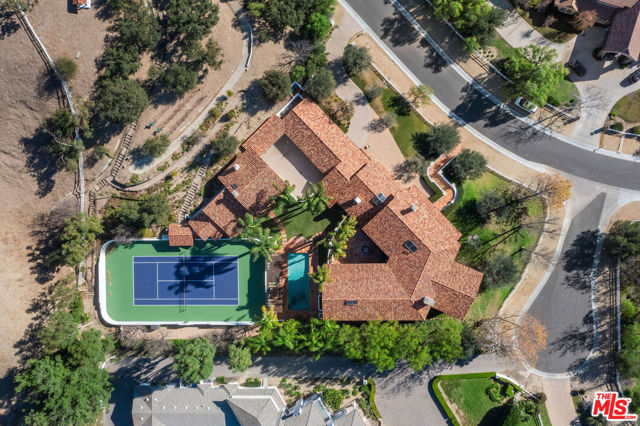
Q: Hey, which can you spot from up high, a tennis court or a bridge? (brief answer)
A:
tennis court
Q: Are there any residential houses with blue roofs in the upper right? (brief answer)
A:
No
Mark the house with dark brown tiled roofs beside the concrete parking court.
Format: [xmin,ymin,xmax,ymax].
[547,0,640,61]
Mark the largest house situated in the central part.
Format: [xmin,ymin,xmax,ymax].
[188,98,483,322]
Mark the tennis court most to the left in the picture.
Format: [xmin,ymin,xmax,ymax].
[106,240,266,322]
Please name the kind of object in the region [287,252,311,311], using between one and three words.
swimming pool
